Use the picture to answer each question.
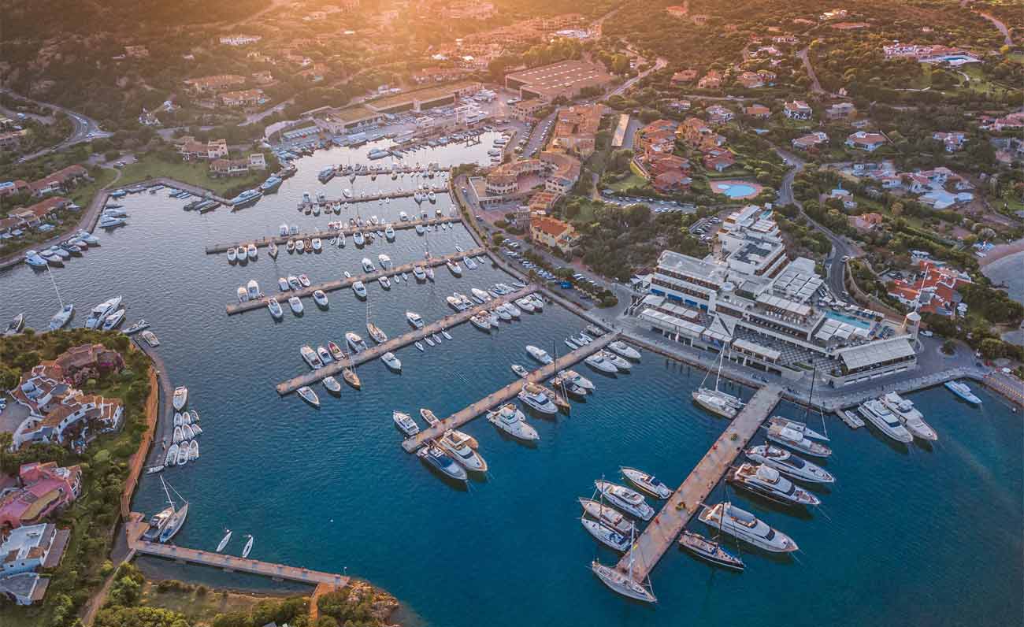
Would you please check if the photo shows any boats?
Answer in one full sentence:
Yes, there's a boat here.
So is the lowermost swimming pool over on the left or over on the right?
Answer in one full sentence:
The lowermost swimming pool is on the right side of the image.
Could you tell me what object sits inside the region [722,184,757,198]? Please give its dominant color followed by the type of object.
blue swimming pool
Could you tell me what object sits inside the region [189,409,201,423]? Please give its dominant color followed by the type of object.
gray boat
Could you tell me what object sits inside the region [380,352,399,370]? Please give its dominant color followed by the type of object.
white boat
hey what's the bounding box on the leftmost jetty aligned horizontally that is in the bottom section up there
[139,542,342,589]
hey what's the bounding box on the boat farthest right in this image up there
[941,381,981,405]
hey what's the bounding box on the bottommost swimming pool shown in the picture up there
[825,310,870,331]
